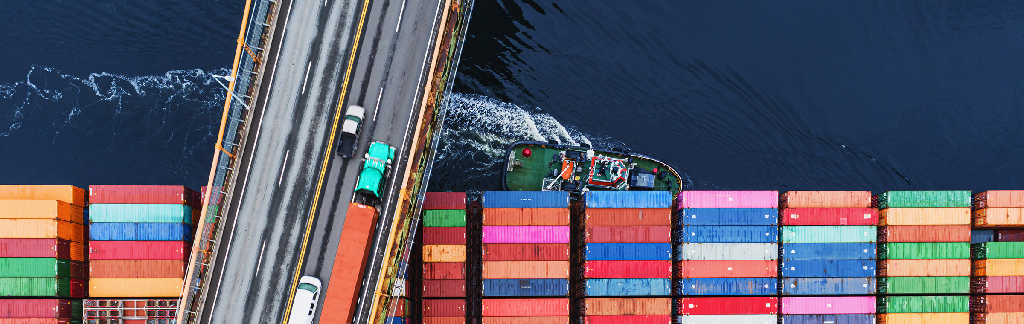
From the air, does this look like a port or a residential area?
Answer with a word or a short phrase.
port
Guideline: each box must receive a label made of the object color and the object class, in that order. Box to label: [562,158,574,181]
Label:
orange boat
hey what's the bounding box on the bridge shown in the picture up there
[174,0,476,324]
